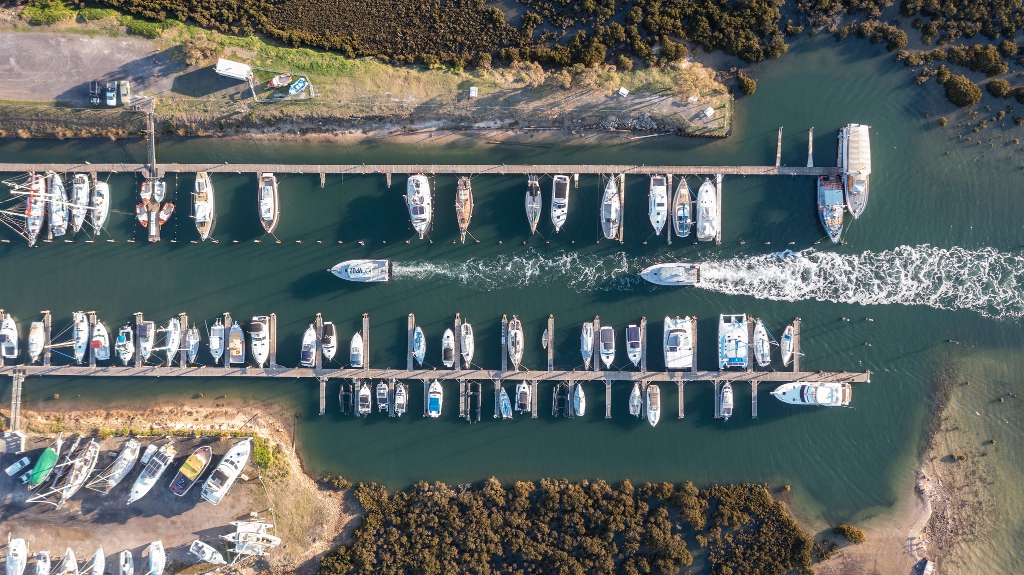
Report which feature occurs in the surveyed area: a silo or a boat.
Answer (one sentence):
Looking from above, you can make out a boat.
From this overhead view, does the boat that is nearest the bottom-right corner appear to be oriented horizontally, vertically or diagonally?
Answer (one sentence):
What the image shows is the boat that is nearest the bottom-right corner lying horizontally.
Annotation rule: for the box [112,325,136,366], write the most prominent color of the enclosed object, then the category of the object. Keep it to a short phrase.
white boat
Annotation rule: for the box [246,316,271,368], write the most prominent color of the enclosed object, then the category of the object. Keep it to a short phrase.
white boat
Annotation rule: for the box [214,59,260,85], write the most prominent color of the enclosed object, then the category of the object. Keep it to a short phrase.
white truck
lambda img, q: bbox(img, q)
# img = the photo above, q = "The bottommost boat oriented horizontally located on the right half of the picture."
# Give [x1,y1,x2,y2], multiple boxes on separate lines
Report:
[770,380,853,409]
